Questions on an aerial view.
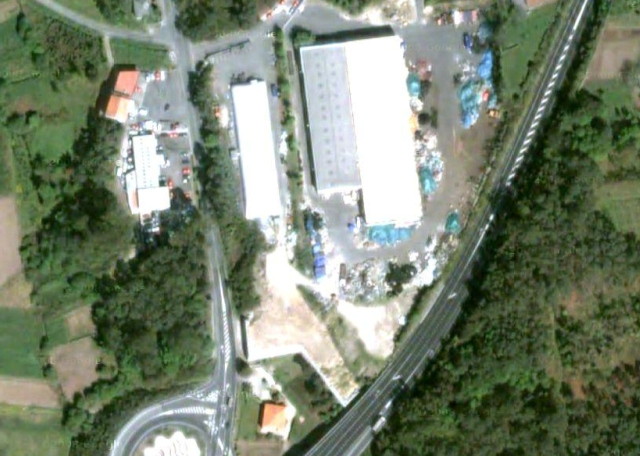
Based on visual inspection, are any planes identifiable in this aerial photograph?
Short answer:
No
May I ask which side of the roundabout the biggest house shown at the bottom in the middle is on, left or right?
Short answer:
to the right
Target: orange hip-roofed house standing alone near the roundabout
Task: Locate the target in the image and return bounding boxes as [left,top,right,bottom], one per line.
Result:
[261,403,286,432]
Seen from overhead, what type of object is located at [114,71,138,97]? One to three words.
house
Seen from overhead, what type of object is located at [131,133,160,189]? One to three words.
building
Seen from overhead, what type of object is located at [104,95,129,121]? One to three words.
house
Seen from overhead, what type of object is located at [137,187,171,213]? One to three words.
building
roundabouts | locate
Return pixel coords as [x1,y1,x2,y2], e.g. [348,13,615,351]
[114,402,234,456]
